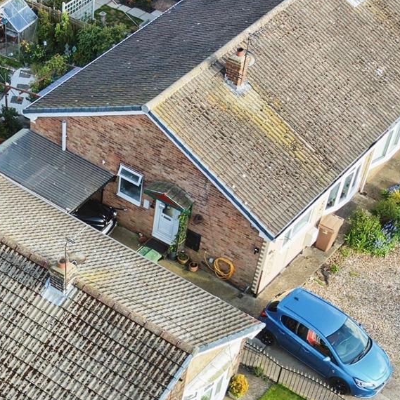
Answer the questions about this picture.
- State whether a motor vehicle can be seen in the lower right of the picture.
Yes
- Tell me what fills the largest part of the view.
buildings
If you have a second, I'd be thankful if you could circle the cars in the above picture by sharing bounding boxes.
[70,201,104,231]
[258,294,390,398]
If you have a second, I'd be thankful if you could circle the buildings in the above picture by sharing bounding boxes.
[21,0,400,297]
[0,0,42,68]
[0,173,268,400]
